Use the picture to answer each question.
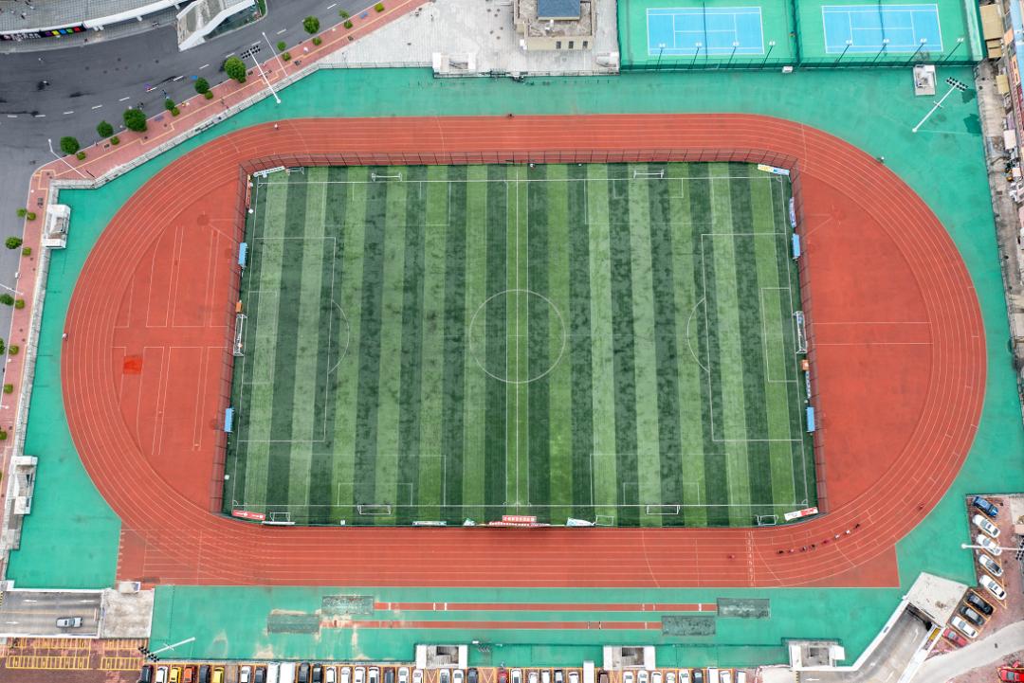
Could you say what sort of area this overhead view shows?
sports ground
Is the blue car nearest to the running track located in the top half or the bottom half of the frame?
bottom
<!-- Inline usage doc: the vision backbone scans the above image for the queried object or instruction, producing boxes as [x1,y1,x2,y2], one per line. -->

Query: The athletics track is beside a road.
[64,112,985,589]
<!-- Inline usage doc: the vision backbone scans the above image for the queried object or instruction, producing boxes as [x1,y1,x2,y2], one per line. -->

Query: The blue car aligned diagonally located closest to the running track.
[971,494,999,518]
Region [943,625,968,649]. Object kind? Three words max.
car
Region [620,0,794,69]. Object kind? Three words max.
tennis court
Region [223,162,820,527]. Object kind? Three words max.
soccer field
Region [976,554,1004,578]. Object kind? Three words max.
car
